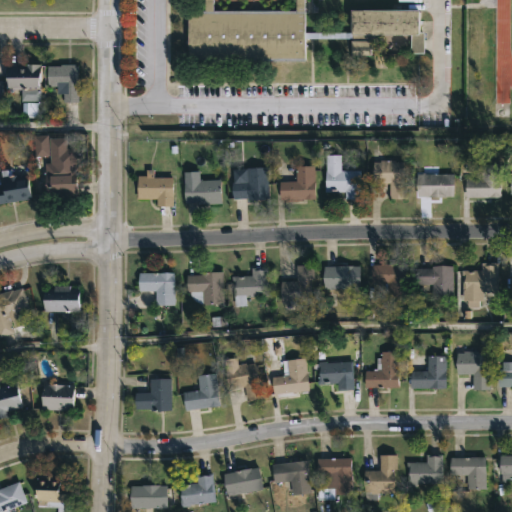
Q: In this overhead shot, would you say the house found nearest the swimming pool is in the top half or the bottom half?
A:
bottom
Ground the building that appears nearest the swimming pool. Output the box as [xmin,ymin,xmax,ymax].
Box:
[38,382,76,411]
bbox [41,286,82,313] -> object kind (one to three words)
house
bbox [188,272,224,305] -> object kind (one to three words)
house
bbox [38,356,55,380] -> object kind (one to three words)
swimming pool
